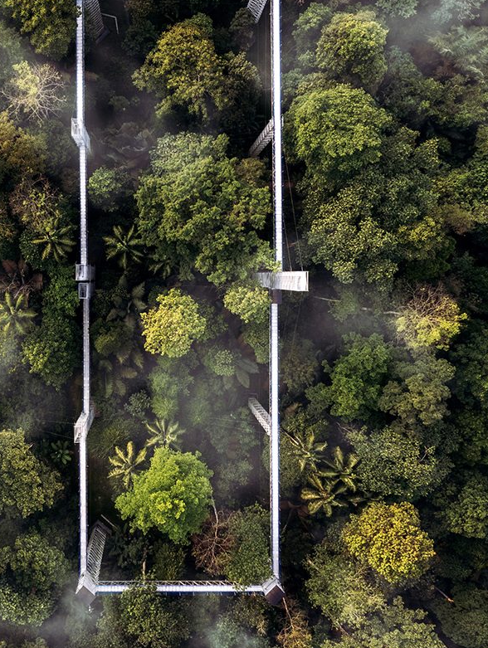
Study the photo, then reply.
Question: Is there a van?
No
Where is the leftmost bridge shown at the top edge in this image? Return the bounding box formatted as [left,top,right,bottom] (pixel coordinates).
[74,0,86,122]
